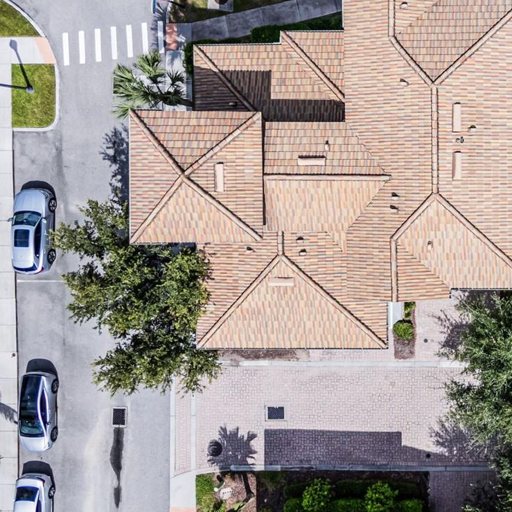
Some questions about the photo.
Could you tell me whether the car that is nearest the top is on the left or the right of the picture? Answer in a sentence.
It is on the left.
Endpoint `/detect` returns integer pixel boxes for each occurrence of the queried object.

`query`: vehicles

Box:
[10,472,54,512]
[9,370,58,450]
[5,187,56,273]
